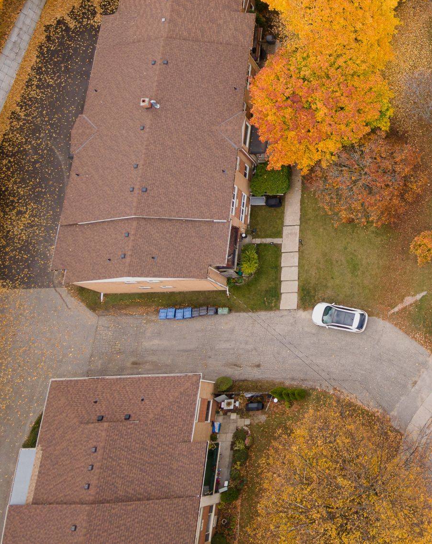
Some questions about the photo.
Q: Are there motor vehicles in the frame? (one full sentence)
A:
Yes, there is a motor vehicle in the image.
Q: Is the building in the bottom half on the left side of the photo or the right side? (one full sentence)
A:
The building in the bottom half appears in the left half of the scene.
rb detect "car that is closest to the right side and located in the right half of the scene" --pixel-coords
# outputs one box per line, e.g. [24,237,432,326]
[311,300,369,333]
